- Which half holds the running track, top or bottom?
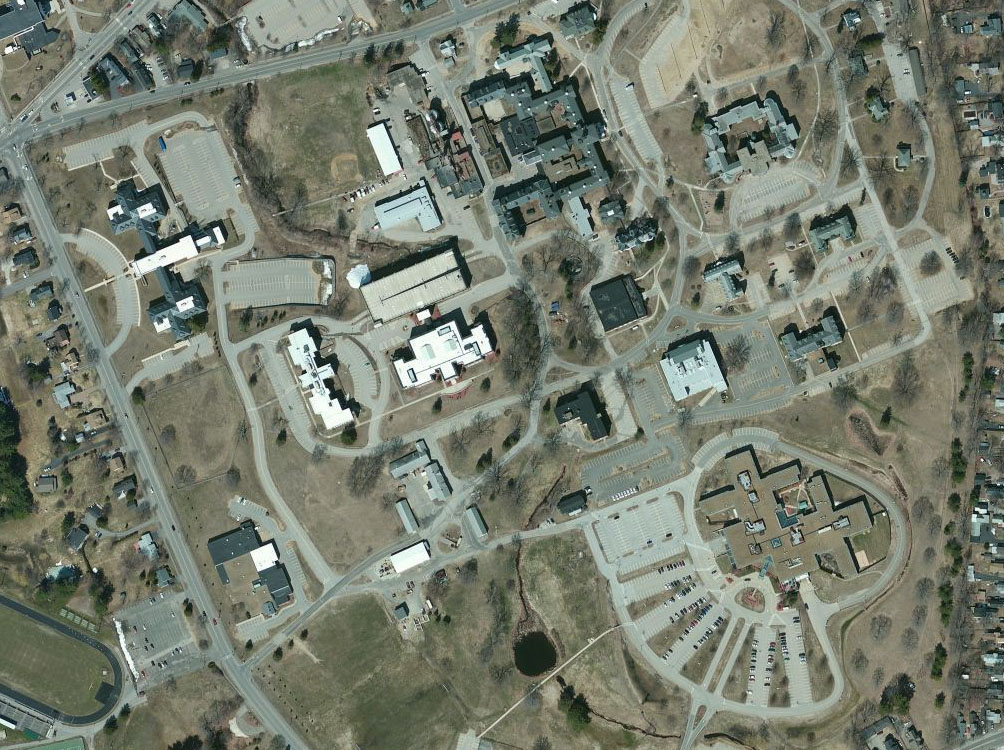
bottom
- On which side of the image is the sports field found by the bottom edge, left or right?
left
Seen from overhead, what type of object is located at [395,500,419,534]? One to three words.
shed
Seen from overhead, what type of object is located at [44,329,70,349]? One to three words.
house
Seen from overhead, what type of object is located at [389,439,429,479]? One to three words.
barn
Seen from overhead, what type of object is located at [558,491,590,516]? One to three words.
building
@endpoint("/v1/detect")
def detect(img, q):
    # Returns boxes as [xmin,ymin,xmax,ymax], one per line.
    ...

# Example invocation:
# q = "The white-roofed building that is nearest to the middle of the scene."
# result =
[394,321,492,388]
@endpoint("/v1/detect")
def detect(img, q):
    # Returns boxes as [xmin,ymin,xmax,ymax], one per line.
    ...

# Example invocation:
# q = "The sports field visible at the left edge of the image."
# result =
[0,605,111,713]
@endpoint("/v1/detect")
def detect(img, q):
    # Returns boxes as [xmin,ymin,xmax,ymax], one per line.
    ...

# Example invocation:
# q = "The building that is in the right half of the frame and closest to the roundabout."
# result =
[699,450,873,584]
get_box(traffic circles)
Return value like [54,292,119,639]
[730,575,777,622]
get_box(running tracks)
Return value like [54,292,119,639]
[0,592,123,725]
